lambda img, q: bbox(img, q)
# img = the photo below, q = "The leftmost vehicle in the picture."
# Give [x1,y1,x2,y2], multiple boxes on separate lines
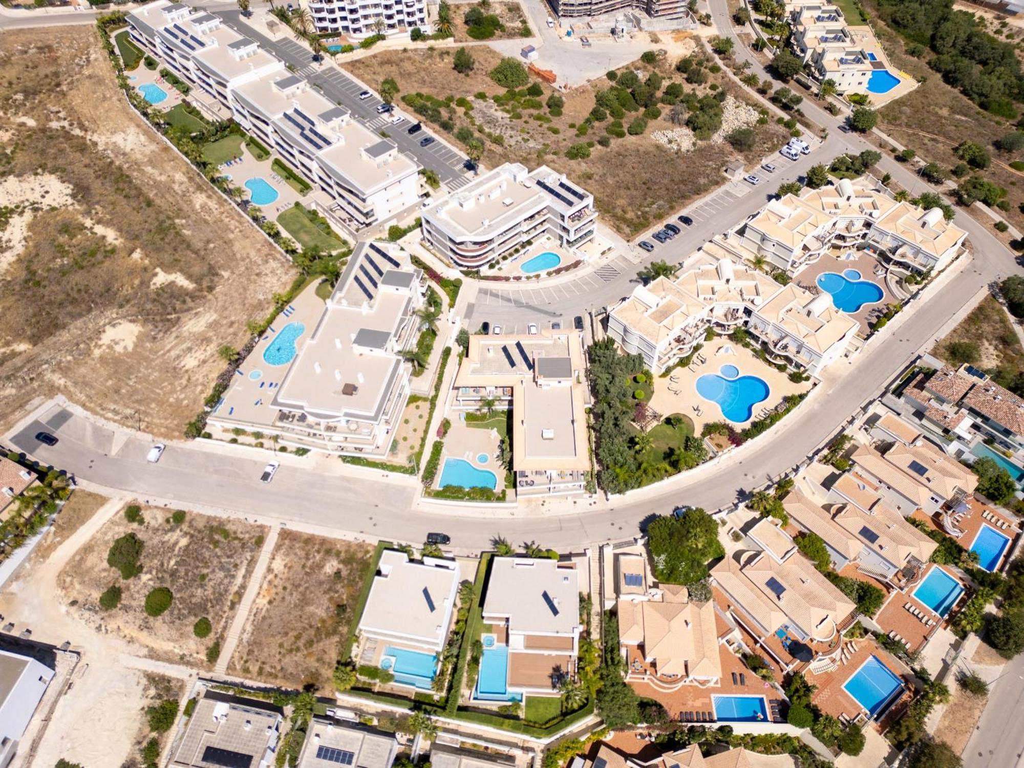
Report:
[36,432,57,445]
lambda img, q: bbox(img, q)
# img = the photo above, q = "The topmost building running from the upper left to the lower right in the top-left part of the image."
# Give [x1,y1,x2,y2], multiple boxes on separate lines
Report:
[124,0,425,236]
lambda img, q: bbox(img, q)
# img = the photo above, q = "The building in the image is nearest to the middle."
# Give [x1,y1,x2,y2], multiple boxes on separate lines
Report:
[454,331,590,495]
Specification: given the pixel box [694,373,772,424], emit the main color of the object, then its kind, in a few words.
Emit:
blue swimming pool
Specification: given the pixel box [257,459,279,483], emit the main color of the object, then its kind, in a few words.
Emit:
white truck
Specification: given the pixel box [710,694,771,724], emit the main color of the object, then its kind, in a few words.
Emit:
blue swimming pool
